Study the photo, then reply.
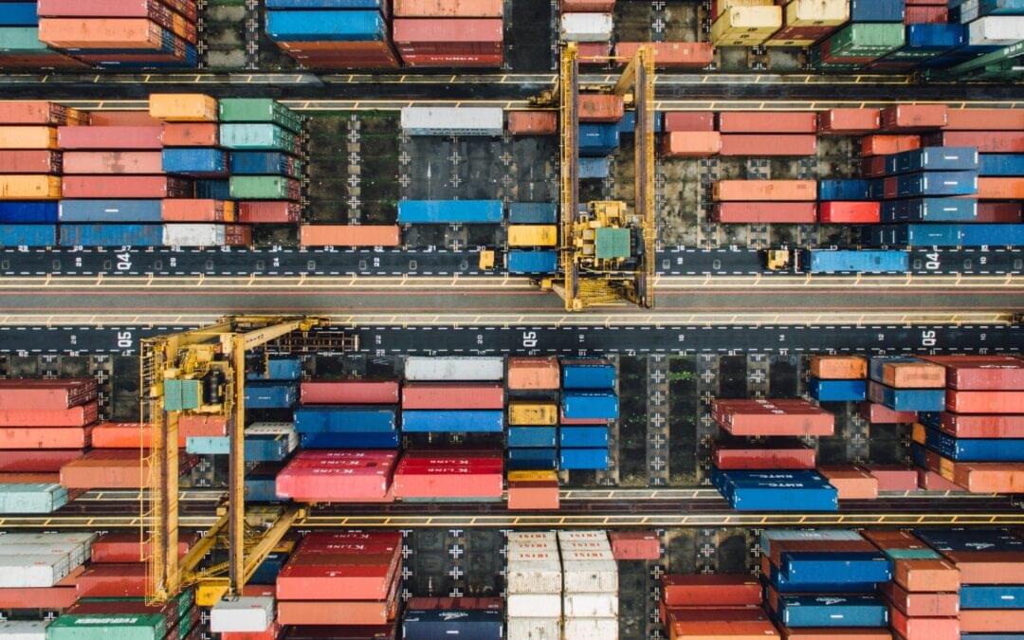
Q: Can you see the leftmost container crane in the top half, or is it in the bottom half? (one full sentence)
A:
You can find the leftmost container crane in the bottom half.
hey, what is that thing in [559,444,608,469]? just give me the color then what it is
blue shipping container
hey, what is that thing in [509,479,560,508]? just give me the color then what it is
red shipping container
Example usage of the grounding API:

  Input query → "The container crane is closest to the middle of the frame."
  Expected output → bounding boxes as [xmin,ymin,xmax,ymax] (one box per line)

[528,42,660,310]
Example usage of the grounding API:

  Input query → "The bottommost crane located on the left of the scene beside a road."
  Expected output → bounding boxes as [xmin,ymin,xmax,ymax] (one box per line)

[141,311,329,608]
